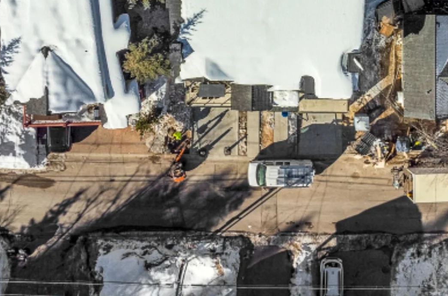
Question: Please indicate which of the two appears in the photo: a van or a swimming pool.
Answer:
van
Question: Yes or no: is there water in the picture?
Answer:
No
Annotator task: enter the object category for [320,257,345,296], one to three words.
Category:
car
